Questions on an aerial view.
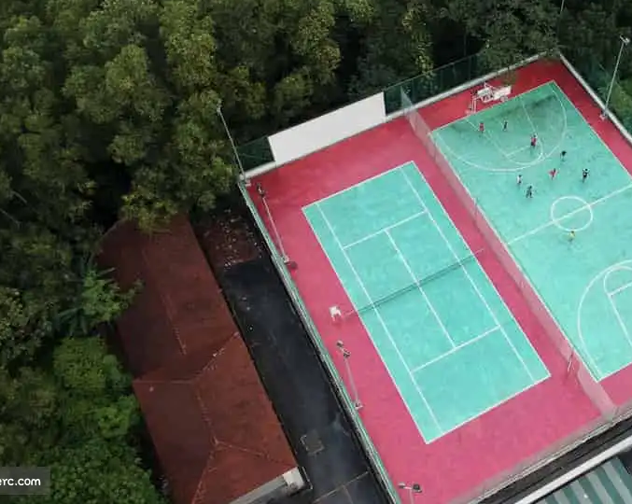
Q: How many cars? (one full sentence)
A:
The picture shows no cars.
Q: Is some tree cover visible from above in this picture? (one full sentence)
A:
Yes, the picture does contain tree cover.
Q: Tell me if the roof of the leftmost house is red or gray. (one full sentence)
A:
The roof of the leftmost house is red.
